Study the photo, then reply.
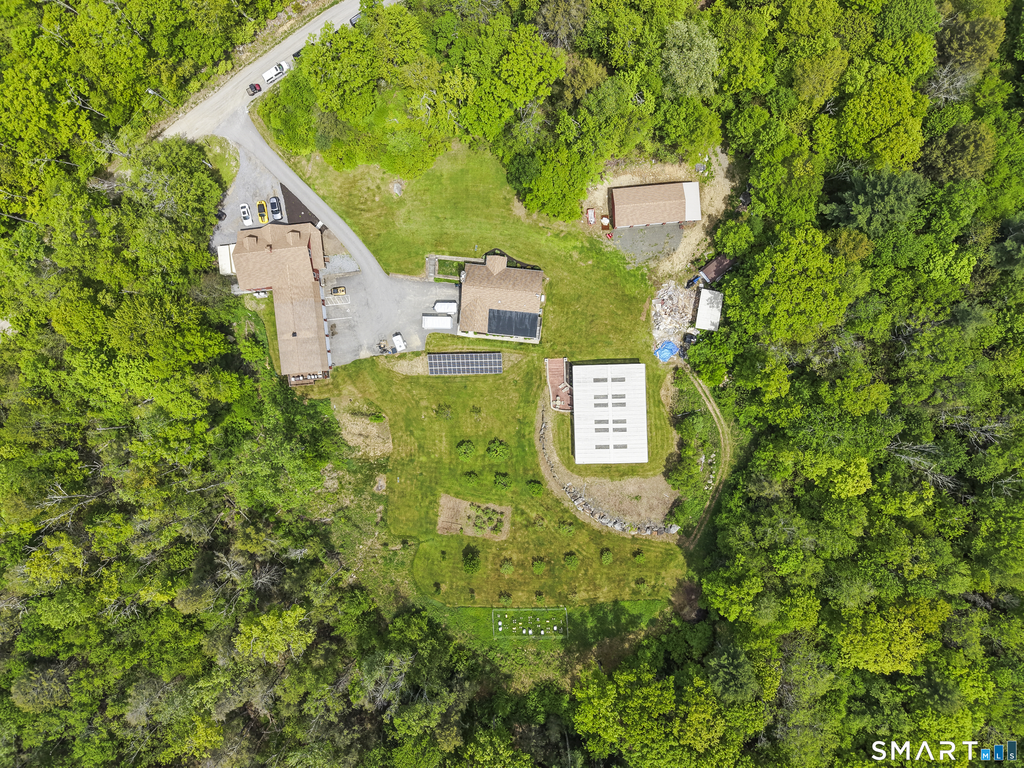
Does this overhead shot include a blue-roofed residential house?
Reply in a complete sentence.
No, there appears to be no blue-roofed residential house in this shot.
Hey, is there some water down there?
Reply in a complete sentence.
No, the picture contains no water.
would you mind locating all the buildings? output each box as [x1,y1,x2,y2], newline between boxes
[232,223,330,386]
[612,182,701,229]
[459,255,543,339]
[567,364,649,464]
[699,253,734,284]
[693,289,723,331]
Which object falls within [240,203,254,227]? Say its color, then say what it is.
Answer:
white car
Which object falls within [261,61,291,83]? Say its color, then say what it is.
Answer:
white truck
